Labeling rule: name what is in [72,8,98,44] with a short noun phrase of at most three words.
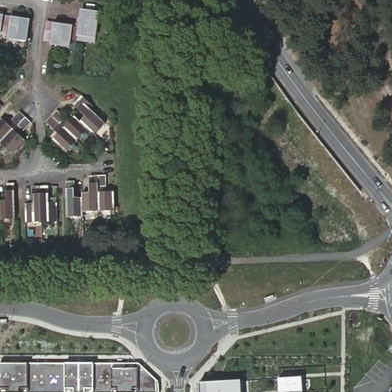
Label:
house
